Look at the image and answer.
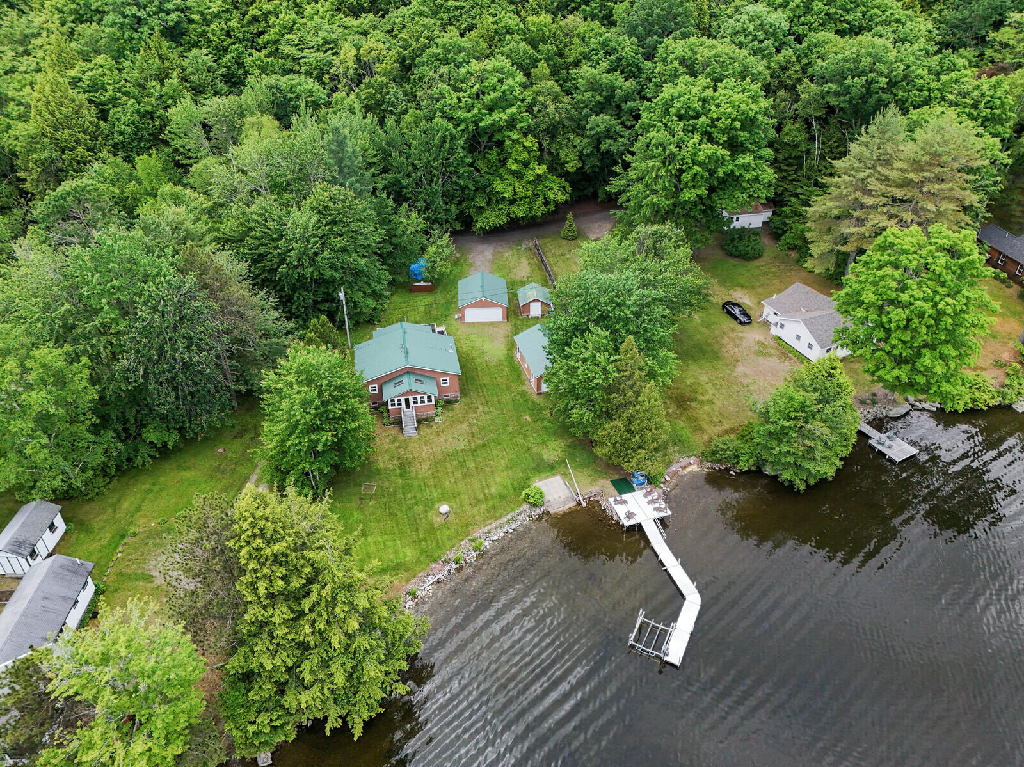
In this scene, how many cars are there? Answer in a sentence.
My tally gives 1 car in this photo.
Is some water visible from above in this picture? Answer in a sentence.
Yes, water can be seen from above here.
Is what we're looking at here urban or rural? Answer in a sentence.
The area shown here is rural.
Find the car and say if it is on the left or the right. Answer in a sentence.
The car appears in the right half of the scene.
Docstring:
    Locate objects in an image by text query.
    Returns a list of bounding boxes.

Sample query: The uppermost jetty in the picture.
[859,422,919,466]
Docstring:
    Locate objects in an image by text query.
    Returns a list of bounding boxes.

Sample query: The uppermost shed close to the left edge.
[0,496,59,581]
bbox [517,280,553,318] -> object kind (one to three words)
shed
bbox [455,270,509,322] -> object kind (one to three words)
building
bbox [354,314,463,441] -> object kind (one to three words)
house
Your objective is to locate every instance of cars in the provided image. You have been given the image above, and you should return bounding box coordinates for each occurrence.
[719,300,757,323]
